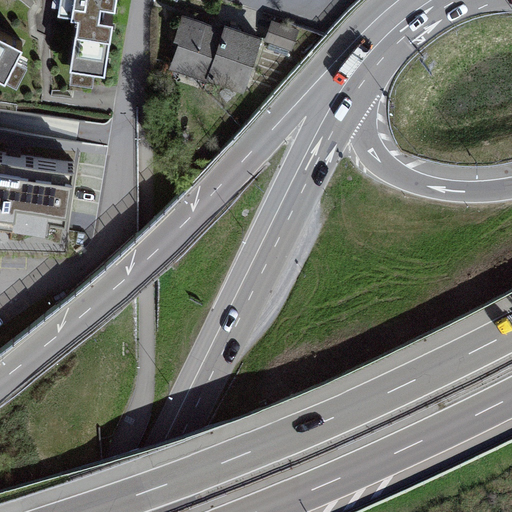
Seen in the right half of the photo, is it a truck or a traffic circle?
truck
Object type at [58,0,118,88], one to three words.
building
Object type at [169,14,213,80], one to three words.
house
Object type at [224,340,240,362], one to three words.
car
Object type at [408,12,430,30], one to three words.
car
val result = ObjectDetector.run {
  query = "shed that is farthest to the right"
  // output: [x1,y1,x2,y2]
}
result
[264,18,298,51]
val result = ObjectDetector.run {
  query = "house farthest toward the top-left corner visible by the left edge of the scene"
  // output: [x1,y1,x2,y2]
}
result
[0,32,29,90]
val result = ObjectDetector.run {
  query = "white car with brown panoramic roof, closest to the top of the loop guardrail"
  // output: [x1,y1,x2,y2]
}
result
[445,3,467,20]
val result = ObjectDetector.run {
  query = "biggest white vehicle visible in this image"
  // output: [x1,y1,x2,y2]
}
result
[330,40,370,84]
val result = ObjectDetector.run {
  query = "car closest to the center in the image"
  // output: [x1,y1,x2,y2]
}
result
[223,308,239,330]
